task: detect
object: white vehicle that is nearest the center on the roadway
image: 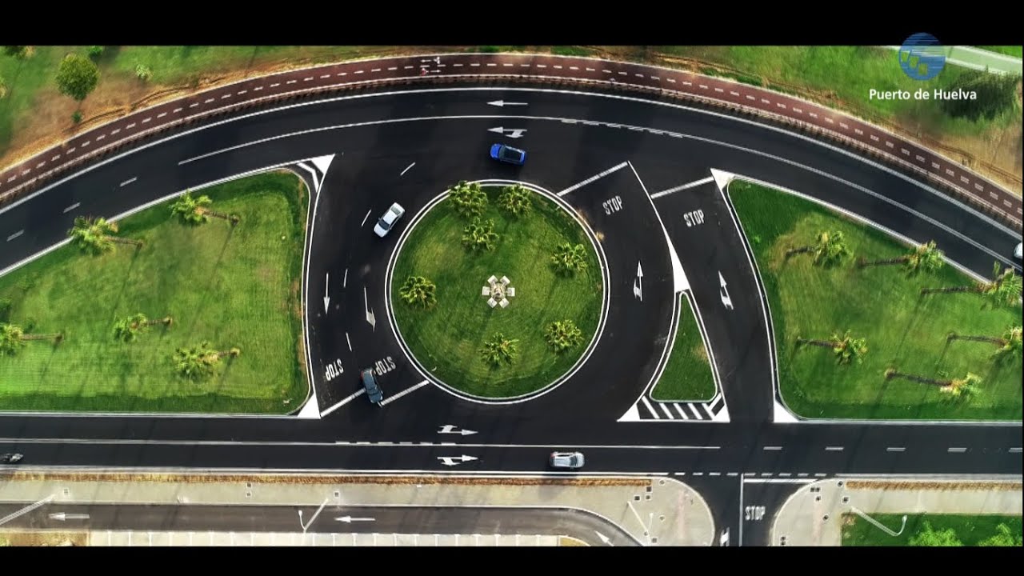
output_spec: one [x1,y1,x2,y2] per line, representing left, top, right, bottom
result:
[374,203,404,236]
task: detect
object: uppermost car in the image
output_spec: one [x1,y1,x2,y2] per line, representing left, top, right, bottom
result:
[490,143,526,164]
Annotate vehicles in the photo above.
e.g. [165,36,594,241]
[360,368,383,402]
[1015,244,1024,261]
[490,143,526,164]
[549,450,583,469]
[374,203,404,236]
